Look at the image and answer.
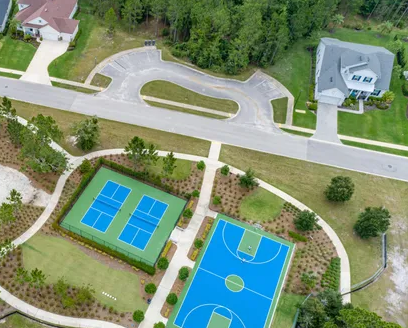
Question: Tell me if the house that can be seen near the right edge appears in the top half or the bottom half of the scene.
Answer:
top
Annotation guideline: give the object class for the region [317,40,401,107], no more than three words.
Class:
house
